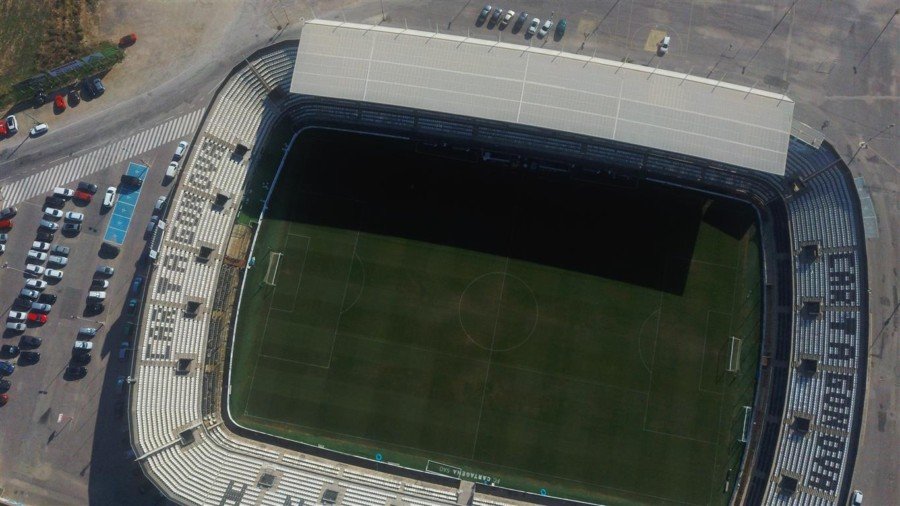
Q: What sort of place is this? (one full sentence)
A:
The area seen from above is a sports ground.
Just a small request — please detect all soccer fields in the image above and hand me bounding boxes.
[230,127,763,506]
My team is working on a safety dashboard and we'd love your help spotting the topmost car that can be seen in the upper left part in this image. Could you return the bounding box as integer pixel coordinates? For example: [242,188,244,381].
[121,34,138,47]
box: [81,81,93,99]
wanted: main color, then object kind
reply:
black vehicle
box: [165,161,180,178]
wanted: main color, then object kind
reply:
white car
